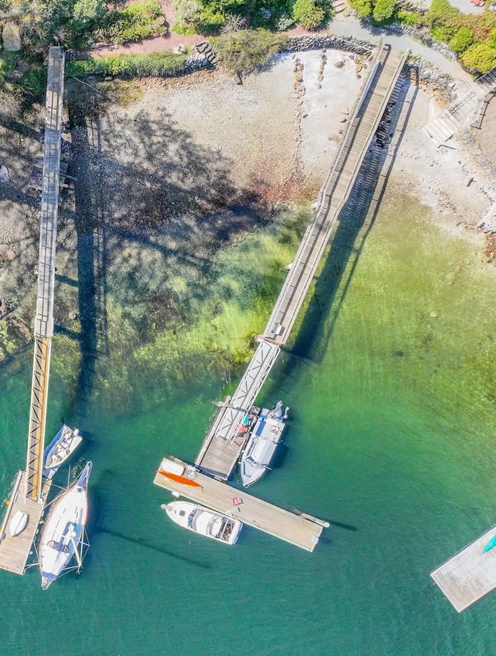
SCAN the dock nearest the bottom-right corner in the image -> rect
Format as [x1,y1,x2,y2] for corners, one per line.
[429,525,496,614]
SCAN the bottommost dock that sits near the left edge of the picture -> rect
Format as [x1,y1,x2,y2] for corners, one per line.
[0,469,62,578]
